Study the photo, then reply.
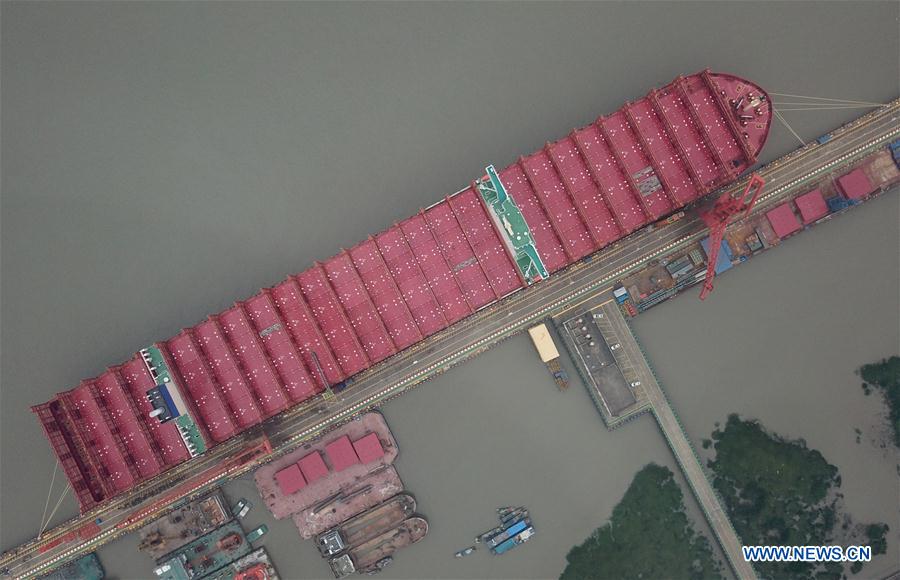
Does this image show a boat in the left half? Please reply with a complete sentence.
Yes, you'll find a boat in the left half.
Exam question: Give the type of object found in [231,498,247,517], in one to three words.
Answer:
boat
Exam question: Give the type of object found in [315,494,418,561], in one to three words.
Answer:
ship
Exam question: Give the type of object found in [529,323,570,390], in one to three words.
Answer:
boat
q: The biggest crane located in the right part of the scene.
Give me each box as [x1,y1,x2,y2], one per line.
[691,174,766,301]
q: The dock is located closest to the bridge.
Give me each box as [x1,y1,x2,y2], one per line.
[551,287,670,431]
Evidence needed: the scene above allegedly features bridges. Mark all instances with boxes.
[650,398,762,580]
